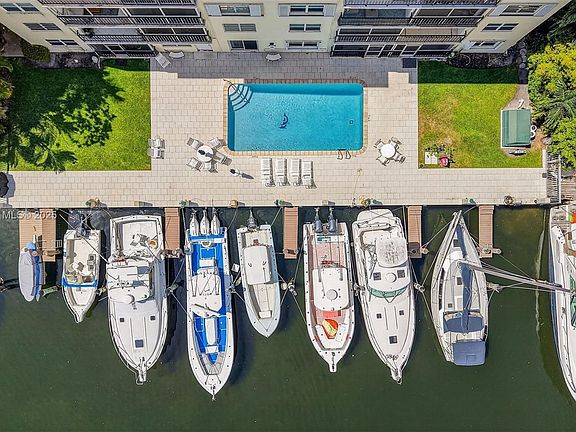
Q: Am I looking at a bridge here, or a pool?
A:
pool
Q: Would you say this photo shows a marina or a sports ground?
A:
marina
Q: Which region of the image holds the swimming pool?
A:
top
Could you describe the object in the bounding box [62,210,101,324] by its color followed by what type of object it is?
white boat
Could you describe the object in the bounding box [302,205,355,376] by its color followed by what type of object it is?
white boat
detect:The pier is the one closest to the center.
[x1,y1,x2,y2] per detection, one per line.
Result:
[283,207,298,259]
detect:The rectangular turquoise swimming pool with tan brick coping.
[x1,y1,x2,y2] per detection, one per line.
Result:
[223,78,368,156]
